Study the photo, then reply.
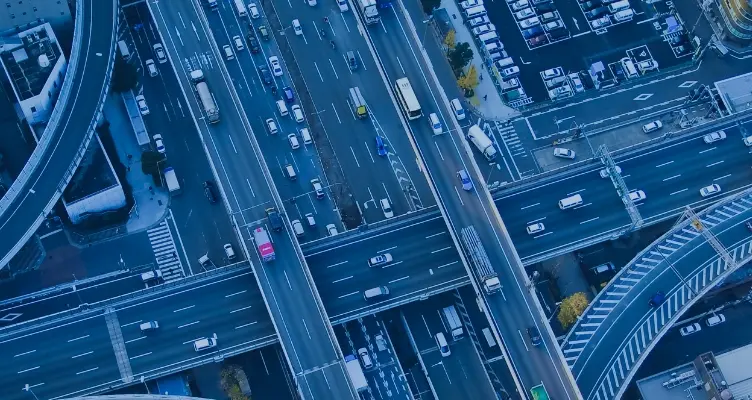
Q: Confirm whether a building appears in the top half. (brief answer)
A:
Yes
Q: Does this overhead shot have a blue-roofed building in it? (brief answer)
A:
Yes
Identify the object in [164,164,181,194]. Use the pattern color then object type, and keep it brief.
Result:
blue vehicle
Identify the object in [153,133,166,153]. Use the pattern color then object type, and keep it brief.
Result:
blue vehicle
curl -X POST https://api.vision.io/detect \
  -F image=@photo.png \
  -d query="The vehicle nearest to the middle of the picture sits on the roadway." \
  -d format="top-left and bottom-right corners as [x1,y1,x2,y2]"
[380,197,394,217]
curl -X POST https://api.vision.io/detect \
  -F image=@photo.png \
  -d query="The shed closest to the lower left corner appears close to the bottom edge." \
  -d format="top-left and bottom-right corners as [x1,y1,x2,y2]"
[157,371,195,396]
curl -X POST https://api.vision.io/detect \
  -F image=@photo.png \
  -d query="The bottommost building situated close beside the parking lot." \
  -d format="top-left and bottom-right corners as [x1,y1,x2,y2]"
[704,71,752,119]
